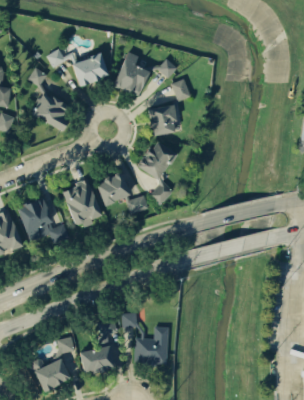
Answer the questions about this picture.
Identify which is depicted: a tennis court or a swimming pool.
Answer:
swimming pool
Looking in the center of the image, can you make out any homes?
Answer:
Yes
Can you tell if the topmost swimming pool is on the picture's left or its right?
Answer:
left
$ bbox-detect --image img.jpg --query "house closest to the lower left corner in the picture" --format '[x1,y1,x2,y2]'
[34,358,72,394]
